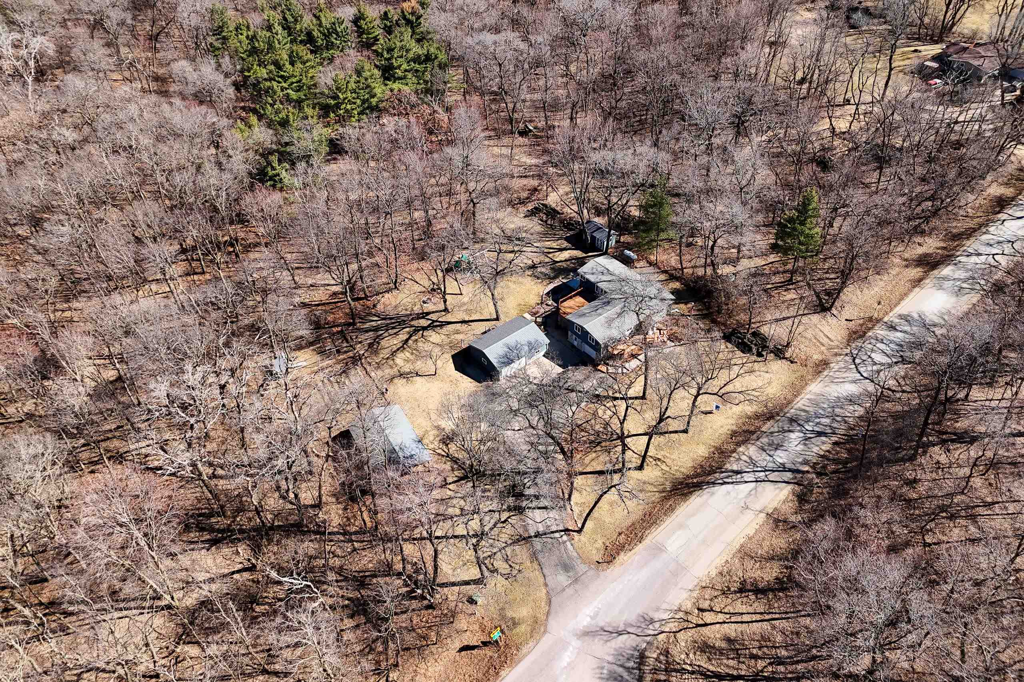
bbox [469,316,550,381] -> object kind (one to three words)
building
